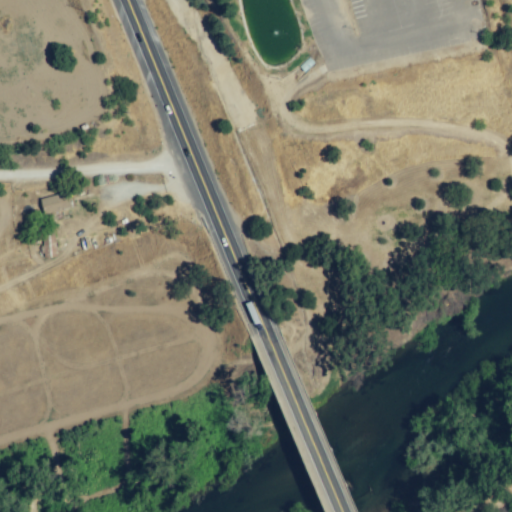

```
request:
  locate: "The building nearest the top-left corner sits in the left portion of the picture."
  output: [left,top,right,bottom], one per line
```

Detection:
[40,195,64,214]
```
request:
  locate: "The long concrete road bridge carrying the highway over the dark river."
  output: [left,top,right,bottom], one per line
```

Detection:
[253,330,358,512]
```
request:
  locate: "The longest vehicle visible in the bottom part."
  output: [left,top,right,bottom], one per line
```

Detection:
[248,300,264,331]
